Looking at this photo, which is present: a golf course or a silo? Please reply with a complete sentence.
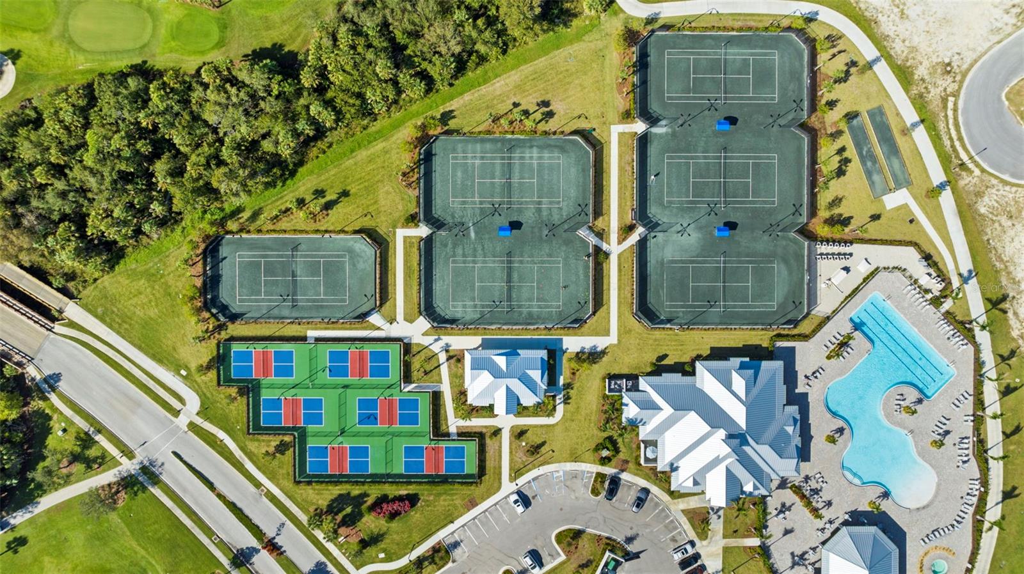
I can see a golf course in this picture.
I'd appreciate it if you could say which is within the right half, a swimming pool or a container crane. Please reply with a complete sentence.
It is a swimming pool that can be seen within the right half.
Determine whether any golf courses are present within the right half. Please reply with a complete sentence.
No, no golf course appears within the right half.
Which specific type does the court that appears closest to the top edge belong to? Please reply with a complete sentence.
Looking closely, the court that appears closest to the top edge is a tennis court.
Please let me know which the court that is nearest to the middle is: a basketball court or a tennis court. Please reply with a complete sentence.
What you see as the court that is nearest to the middle is a tennis court.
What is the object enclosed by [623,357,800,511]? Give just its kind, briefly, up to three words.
building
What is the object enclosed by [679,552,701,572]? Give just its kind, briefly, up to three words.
car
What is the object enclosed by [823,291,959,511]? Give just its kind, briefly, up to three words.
swimming pool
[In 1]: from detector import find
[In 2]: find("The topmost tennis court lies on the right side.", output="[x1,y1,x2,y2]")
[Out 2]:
[639,34,806,127]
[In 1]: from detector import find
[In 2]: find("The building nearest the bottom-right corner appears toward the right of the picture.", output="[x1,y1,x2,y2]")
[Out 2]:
[819,525,898,574]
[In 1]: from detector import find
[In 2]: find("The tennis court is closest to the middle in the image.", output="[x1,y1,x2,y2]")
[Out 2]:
[421,231,591,326]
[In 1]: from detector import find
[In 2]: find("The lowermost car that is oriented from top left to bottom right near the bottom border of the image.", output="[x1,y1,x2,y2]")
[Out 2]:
[522,551,541,573]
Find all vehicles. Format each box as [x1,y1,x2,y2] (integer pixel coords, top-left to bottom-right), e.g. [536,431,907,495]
[686,563,708,574]
[632,489,648,511]
[510,491,524,514]
[679,552,701,572]
[522,551,541,573]
[605,477,620,501]
[671,541,693,561]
